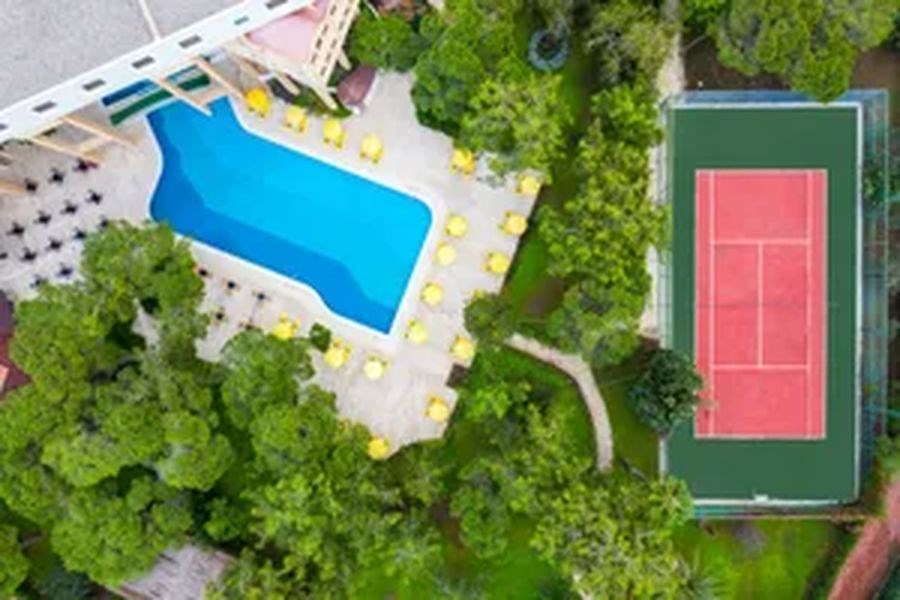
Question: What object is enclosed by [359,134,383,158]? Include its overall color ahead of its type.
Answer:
yellow umbrella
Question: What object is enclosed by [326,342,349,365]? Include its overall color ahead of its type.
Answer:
yellow umbrella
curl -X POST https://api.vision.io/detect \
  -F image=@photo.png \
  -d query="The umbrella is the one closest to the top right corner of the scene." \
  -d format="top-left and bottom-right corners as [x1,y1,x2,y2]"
[518,173,541,196]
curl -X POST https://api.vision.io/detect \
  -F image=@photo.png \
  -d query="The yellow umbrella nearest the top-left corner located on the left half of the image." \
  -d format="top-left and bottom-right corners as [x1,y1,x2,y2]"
[247,90,270,112]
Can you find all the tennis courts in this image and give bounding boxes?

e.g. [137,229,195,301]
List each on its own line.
[657,99,863,503]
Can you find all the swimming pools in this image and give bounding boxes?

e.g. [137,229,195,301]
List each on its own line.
[144,96,436,334]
